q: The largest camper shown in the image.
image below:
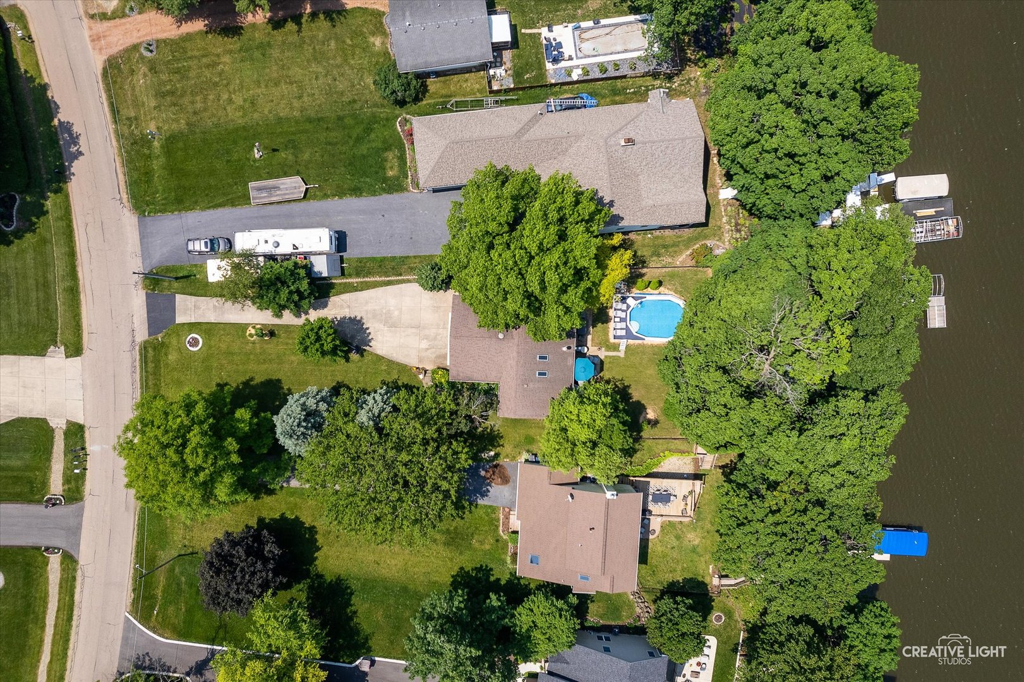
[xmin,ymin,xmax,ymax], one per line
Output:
[233,220,348,252]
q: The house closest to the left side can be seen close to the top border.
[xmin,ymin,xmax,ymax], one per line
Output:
[385,0,494,77]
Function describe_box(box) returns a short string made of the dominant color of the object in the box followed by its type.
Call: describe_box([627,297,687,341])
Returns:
blue swimming pool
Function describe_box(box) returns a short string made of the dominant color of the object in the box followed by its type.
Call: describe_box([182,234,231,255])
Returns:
gray car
